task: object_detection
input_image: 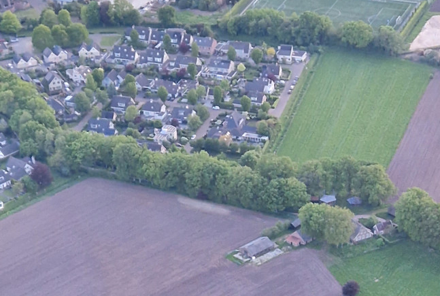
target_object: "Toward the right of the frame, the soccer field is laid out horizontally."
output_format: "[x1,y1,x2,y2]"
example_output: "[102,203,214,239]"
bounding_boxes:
[244,0,414,36]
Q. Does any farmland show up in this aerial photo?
Yes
